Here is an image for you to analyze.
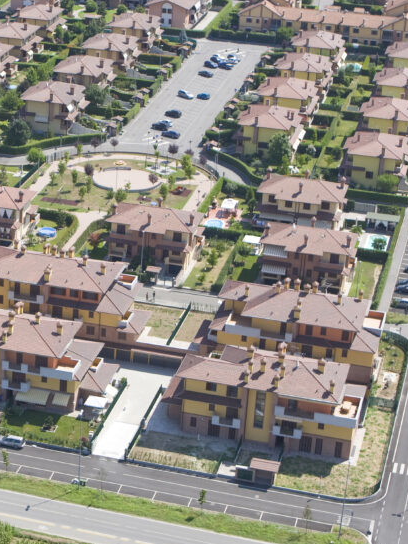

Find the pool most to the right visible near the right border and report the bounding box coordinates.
[364,235,388,250]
